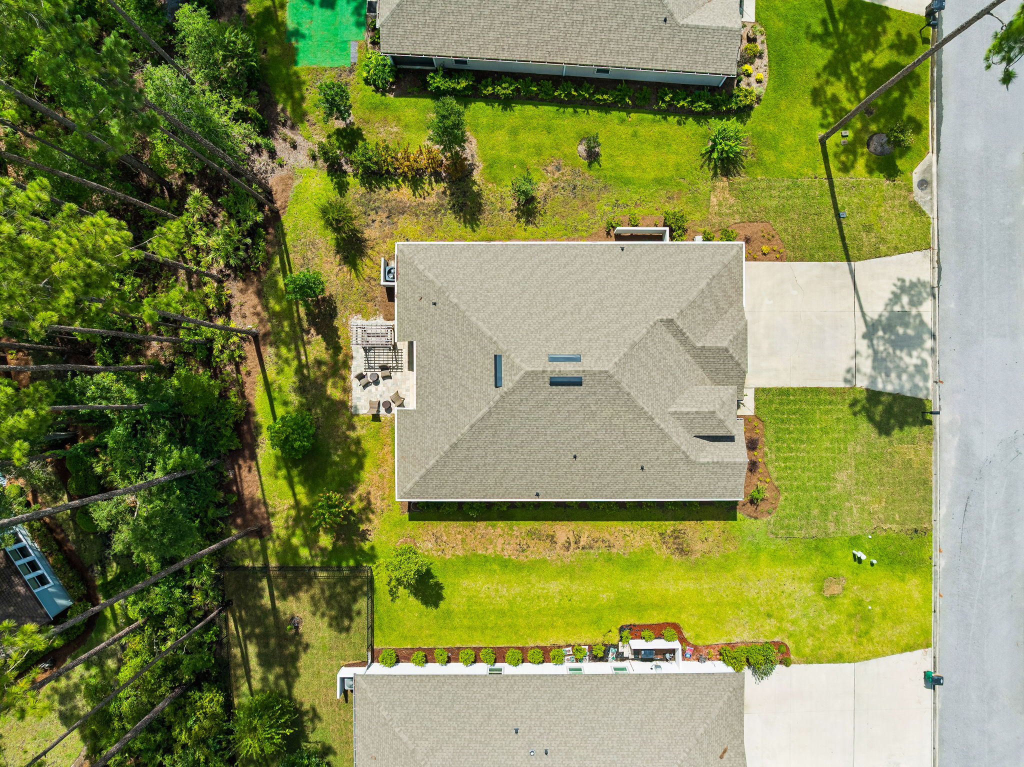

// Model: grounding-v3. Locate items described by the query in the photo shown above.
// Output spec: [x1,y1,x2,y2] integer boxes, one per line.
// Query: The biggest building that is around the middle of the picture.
[393,240,751,503]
